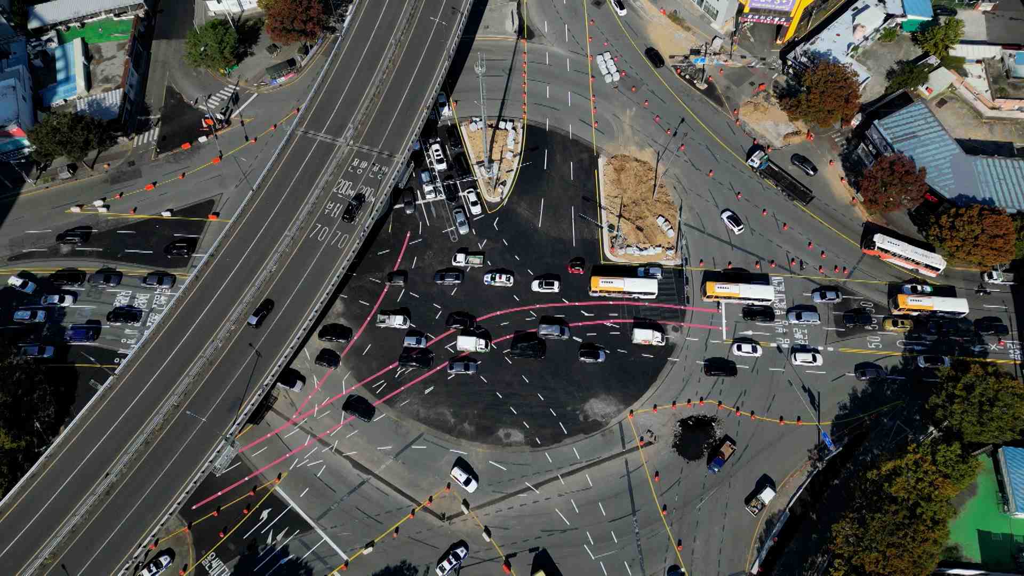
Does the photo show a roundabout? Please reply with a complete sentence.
No, no roundabout is visible in the view.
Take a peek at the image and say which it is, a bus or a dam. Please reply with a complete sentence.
The image shows a bus.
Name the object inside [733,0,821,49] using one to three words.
building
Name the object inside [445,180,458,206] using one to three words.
vehicle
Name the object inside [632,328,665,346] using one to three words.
vehicle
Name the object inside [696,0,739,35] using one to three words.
building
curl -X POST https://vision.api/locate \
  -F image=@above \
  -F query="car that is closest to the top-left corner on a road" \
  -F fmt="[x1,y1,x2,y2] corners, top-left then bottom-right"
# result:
[57,233,88,247]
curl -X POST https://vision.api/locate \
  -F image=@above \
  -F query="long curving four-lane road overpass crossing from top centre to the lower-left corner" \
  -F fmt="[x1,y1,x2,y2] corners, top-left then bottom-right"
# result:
[0,0,475,576]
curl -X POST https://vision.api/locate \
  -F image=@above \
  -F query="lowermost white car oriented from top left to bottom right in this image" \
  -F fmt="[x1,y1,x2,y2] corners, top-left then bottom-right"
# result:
[449,466,480,496]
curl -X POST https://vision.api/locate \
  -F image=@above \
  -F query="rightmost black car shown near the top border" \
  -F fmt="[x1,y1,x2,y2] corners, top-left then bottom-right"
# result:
[933,4,959,17]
